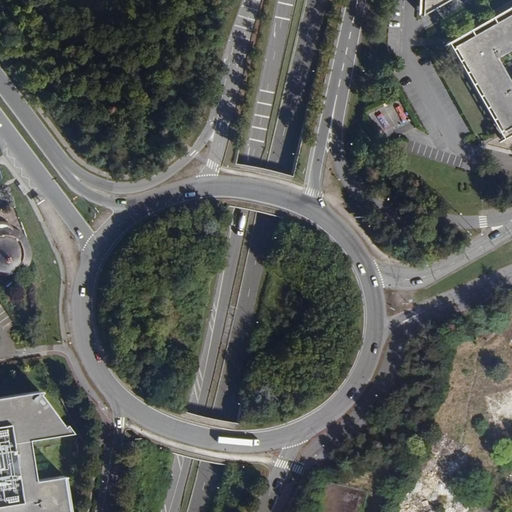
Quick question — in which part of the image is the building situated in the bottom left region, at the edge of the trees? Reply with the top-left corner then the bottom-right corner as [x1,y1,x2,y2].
[0,390,78,512]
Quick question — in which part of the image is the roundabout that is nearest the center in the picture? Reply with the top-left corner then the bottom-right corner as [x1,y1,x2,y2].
[72,174,388,452]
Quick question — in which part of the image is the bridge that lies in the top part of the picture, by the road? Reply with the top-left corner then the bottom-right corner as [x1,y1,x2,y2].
[212,164,301,218]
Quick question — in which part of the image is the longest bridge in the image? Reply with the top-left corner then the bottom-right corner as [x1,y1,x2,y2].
[130,412,275,466]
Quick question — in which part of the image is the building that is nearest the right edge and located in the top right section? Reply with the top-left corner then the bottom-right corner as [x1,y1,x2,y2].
[449,8,512,140]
